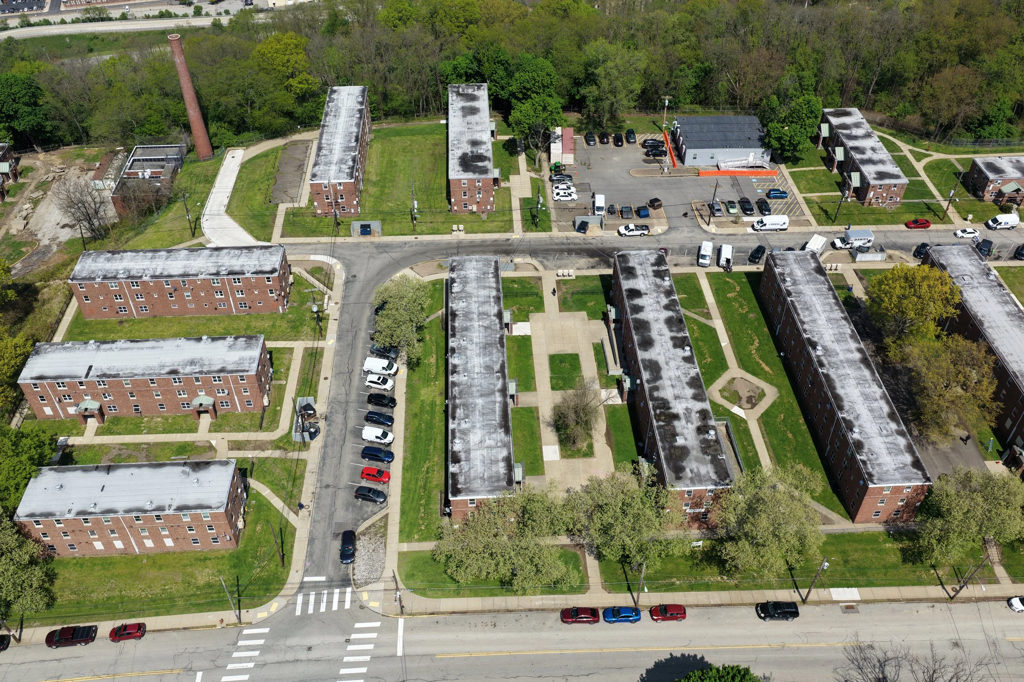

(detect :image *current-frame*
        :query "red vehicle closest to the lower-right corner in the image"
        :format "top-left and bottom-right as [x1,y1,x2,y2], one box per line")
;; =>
[649,604,687,624]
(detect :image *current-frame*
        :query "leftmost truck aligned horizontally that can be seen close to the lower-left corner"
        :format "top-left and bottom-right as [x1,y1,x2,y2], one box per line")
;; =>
[45,625,99,649]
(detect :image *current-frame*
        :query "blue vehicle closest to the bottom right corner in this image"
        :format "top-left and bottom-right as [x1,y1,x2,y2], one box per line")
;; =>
[602,606,642,625]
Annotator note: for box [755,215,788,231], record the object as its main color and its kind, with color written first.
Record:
white vehicle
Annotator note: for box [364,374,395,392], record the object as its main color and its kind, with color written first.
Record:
white car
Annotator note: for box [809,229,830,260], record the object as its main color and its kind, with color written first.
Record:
white truck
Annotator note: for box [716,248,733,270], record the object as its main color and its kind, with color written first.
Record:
white vehicle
